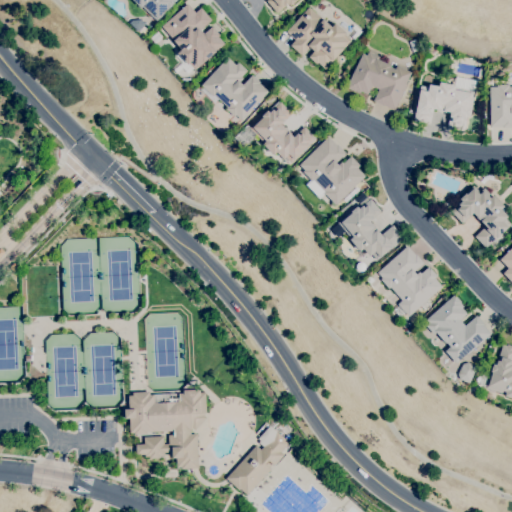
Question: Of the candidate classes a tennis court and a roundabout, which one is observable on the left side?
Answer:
tennis court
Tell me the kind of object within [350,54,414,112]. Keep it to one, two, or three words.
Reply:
house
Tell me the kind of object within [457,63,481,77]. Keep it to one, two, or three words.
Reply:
swimming pool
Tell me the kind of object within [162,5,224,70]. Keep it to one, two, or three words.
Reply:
house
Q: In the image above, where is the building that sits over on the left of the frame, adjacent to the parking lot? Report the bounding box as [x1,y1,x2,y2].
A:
[125,390,207,470]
